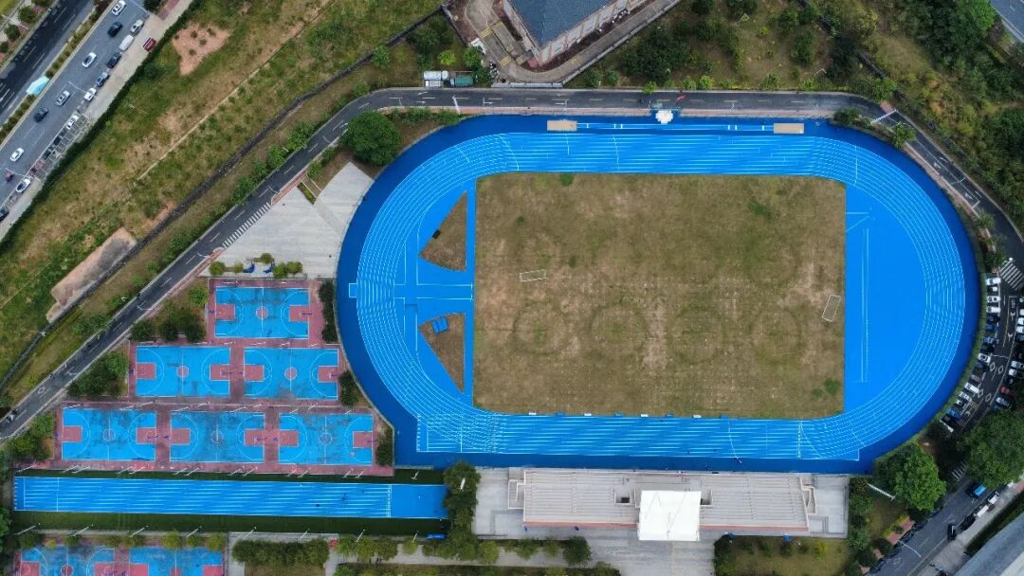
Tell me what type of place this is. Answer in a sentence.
The area seen from above is a sports ground.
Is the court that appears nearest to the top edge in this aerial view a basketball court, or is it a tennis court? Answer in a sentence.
It turns out the court that appears nearest to the top edge is a basketball court.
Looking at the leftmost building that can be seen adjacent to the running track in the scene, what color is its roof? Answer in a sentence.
From above, the roof of the leftmost building that can be seen adjacent to the running track looks blue.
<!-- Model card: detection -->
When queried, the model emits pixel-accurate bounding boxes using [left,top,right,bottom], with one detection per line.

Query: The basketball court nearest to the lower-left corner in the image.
[21,547,114,576]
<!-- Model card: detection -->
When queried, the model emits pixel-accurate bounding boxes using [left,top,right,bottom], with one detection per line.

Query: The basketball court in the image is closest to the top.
[215,288,309,339]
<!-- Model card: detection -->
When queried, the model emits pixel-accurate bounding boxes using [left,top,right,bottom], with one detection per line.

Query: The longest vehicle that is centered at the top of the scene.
[449,74,474,86]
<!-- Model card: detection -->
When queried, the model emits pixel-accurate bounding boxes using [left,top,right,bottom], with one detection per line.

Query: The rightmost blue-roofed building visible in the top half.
[503,0,655,80]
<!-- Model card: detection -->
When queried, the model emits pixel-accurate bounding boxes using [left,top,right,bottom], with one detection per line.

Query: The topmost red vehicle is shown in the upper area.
[142,37,157,52]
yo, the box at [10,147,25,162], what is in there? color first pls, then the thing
white car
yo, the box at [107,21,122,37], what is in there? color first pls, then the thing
black car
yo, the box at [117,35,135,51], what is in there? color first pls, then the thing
white car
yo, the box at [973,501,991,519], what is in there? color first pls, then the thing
white vehicle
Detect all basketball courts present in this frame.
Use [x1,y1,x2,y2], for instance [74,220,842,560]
[279,413,373,466]
[129,548,223,576]
[170,411,264,464]
[136,347,230,397]
[62,409,156,462]
[244,348,338,399]
[215,288,309,339]
[21,547,114,576]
